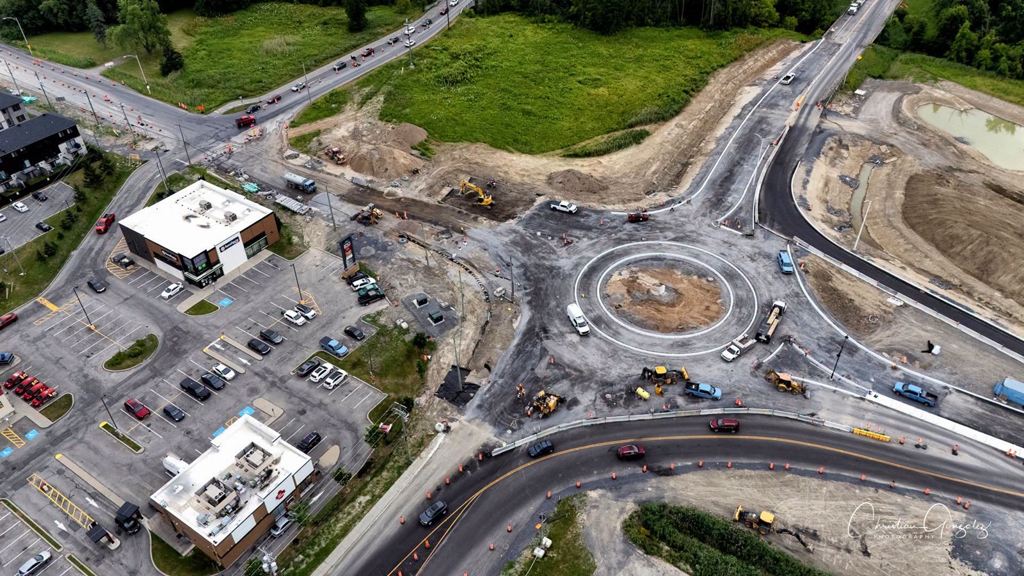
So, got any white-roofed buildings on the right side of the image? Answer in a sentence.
No, there is no white-roofed building on the right side of the image.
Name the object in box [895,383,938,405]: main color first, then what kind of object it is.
blue truck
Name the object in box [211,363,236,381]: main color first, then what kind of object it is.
white car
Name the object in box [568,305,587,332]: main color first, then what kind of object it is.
white vehicle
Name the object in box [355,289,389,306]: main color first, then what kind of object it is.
black vehicle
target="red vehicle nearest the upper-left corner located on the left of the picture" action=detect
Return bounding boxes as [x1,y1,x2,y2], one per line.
[93,213,117,232]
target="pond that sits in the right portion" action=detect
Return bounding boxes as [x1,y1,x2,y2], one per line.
[916,102,1024,171]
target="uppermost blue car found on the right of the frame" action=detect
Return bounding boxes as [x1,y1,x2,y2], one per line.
[778,253,793,272]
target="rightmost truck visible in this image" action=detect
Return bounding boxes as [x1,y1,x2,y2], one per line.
[987,377,1024,404]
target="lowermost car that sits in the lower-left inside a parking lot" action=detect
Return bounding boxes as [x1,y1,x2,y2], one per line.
[13,546,56,576]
